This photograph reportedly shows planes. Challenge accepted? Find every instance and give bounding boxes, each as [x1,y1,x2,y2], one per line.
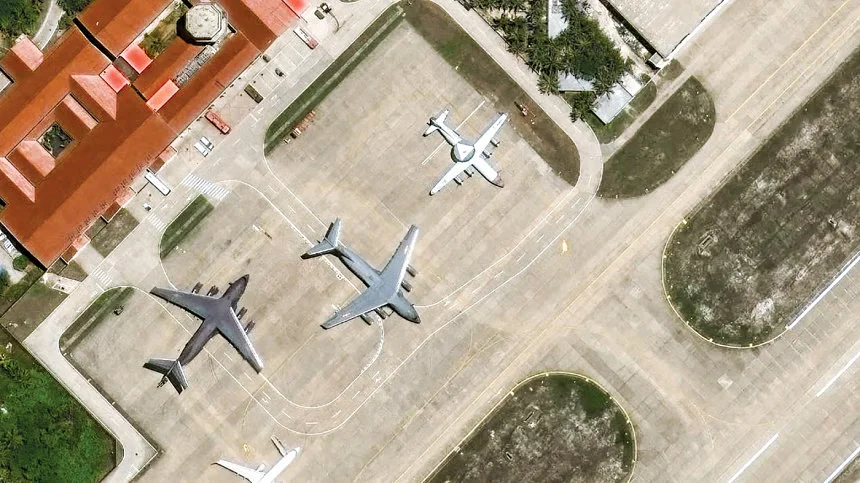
[421,108,506,196]
[149,274,262,391]
[214,447,300,483]
[304,215,421,328]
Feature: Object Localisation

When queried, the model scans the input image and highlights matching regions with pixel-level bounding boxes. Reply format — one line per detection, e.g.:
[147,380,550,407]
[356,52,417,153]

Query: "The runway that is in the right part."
[632,260,860,483]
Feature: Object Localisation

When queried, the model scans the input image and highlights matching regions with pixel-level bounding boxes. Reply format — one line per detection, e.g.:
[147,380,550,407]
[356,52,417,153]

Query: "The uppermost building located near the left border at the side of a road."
[0,0,317,270]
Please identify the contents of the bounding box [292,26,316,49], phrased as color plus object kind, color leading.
white bus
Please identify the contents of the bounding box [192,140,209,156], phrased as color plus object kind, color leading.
white vehicle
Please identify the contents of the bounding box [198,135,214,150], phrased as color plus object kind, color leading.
white vehicle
